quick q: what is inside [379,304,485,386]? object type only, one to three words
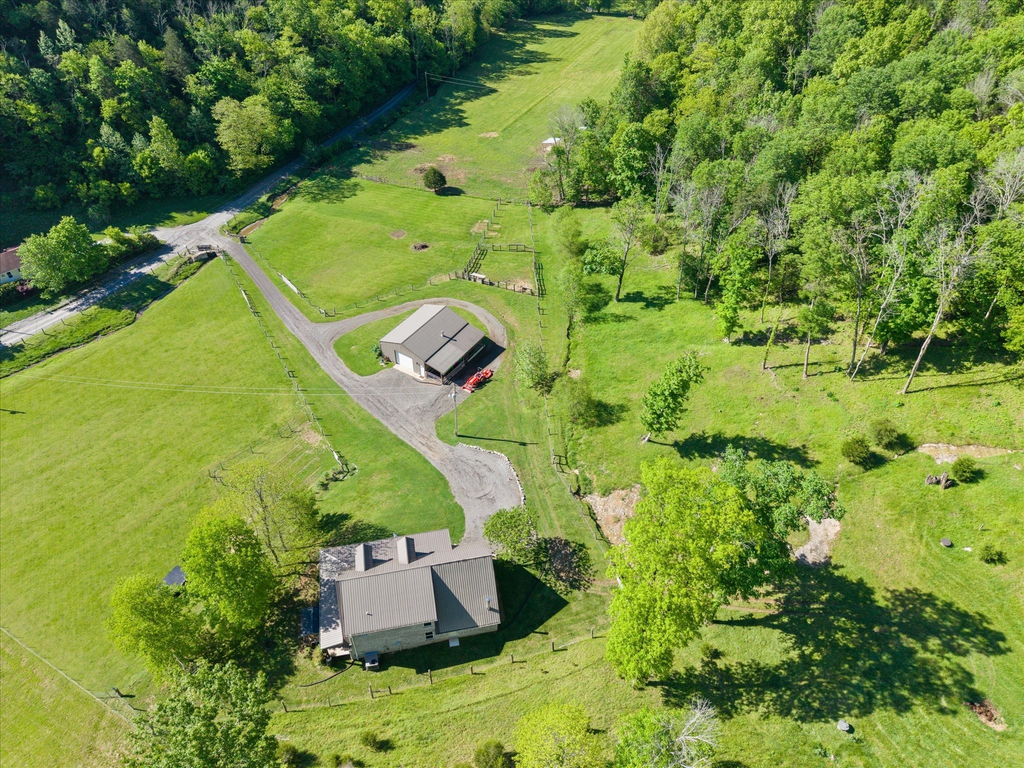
barn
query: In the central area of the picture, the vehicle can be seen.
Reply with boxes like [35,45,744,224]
[458,369,495,397]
